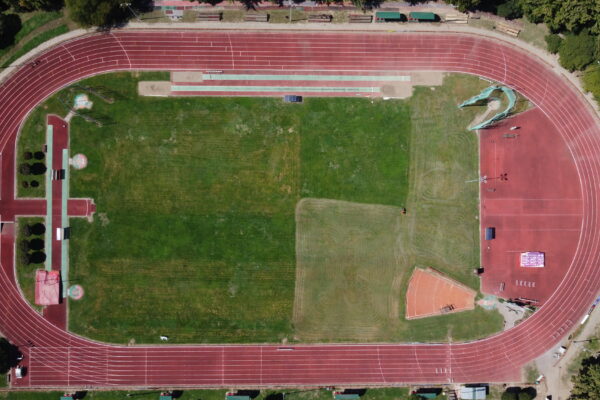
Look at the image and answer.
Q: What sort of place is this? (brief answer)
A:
sports ground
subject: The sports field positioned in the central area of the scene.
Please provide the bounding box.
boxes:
[15,70,536,344]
